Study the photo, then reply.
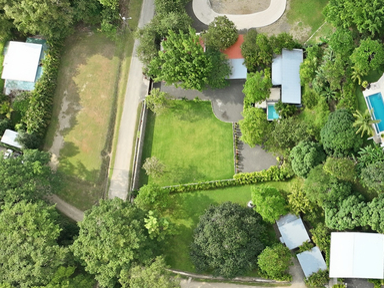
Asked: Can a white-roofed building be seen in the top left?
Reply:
Yes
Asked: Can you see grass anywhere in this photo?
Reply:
Yes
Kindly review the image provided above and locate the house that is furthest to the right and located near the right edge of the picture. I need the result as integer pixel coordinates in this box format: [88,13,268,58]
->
[329,233,384,279]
